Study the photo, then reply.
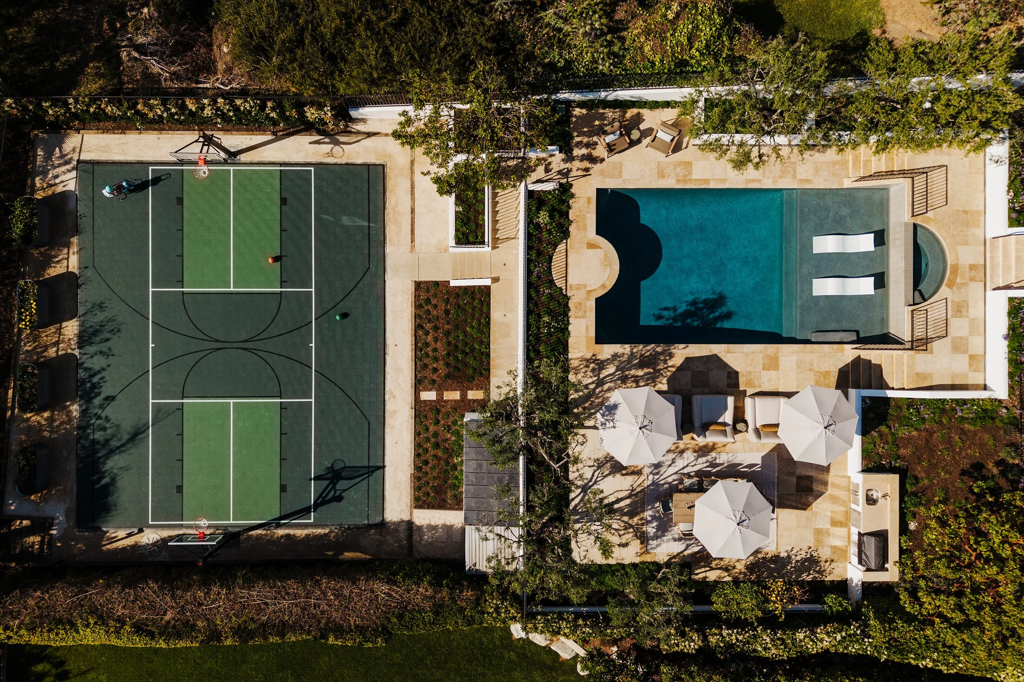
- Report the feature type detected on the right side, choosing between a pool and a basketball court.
pool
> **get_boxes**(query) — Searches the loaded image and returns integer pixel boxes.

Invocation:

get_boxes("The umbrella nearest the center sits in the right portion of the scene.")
[597,386,677,466]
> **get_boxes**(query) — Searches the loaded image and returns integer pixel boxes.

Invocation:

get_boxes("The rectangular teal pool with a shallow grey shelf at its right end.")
[596,188,890,344]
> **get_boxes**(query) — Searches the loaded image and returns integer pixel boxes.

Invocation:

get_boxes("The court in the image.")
[76,160,386,531]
